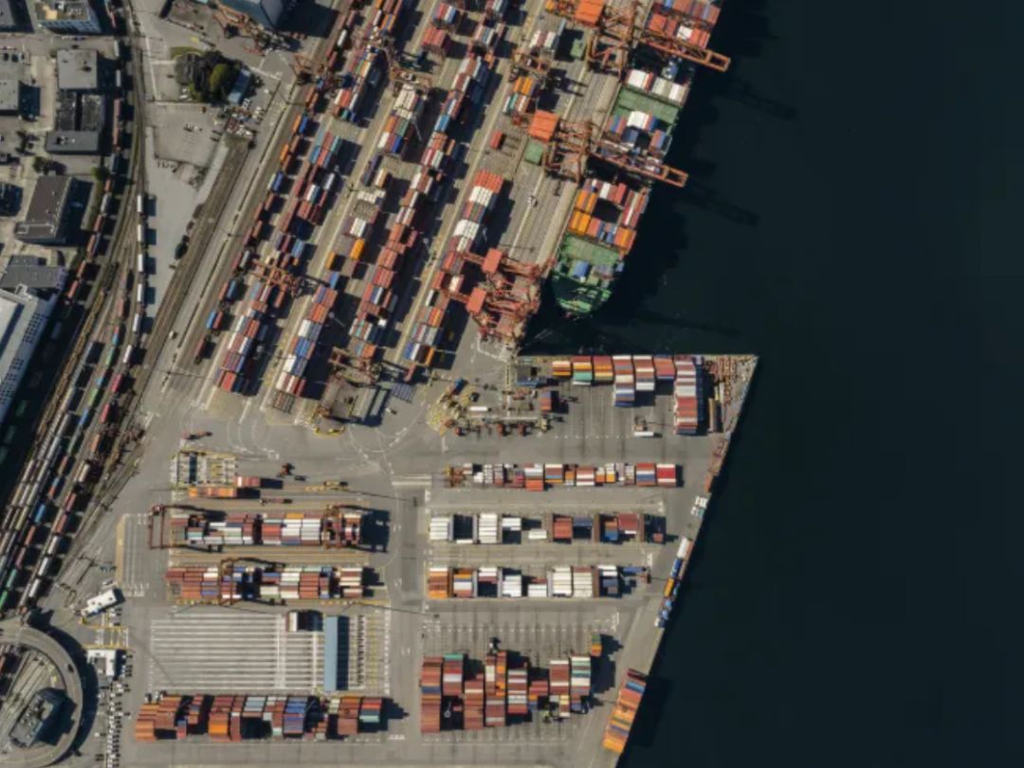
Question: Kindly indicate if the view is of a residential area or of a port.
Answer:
port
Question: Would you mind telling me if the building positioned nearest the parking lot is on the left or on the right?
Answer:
left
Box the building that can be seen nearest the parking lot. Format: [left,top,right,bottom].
[227,68,251,104]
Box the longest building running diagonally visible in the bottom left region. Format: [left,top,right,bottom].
[9,688,66,746]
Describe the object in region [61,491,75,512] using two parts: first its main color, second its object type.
red rail car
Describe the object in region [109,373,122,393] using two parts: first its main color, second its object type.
red rail car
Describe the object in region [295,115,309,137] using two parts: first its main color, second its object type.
blue rail car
